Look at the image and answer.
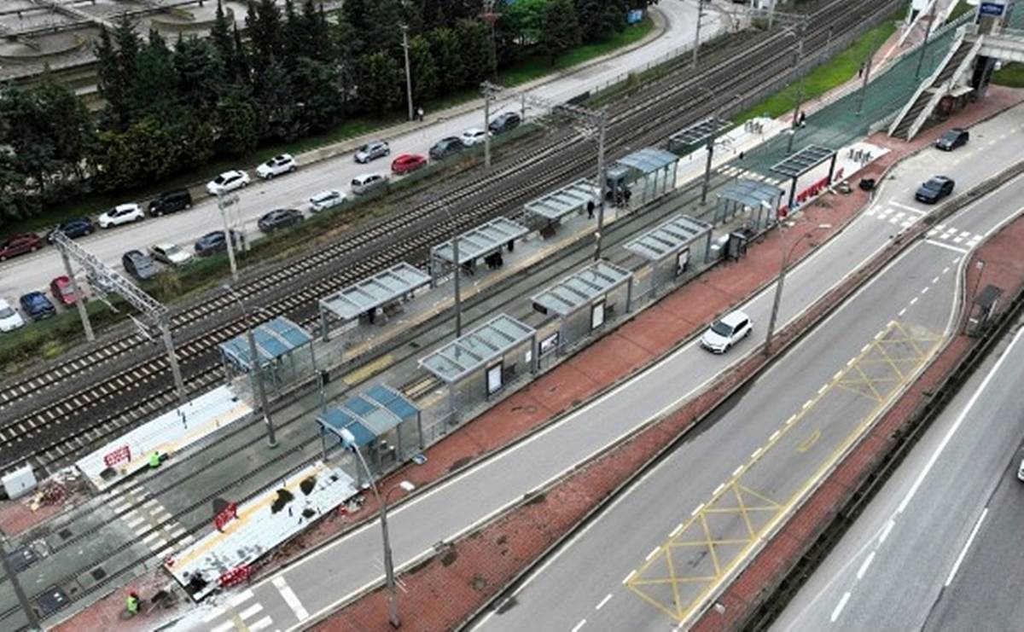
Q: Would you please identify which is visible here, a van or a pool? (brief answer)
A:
van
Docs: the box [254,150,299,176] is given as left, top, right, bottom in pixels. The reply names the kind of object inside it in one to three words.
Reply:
car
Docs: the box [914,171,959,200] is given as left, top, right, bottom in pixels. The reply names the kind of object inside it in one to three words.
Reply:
car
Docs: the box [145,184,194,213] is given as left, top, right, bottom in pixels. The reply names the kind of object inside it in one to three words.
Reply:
van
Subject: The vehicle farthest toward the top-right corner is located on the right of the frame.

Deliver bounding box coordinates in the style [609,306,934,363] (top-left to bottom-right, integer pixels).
[935,123,971,148]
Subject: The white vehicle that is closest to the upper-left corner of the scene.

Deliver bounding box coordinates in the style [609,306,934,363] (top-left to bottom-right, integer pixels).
[98,199,148,225]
